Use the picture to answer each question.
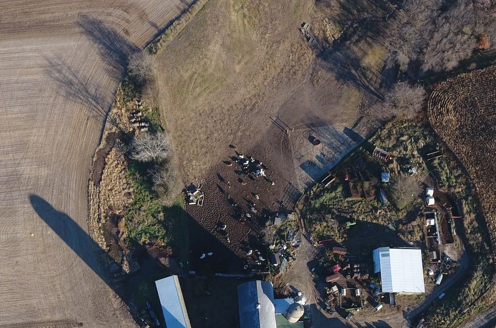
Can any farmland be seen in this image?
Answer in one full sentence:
Yes, farmland can be seen from above here.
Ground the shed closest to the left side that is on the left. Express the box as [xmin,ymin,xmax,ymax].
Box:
[156,275,192,328]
